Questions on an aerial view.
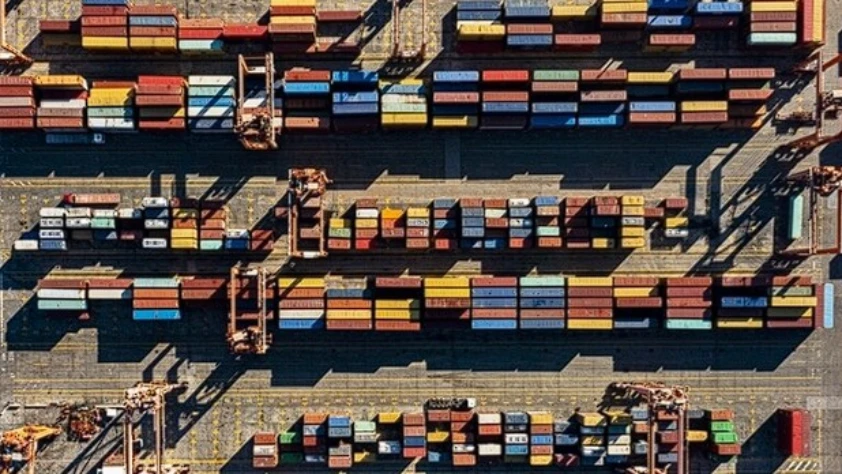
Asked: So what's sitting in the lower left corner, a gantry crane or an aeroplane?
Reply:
gantry crane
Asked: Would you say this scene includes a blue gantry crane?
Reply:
No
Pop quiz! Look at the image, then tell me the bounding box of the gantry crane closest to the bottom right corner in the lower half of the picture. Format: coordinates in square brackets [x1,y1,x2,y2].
[618,373,693,474]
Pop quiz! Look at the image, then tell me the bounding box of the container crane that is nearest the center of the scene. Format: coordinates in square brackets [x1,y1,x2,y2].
[281,162,335,260]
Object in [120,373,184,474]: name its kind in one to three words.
container crane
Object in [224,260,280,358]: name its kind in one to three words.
container crane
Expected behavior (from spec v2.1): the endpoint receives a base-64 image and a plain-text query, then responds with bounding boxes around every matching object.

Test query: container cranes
[281,162,335,260]
[224,260,280,358]
[385,0,436,59]
[784,46,842,146]
[229,53,287,152]
[0,0,38,59]
[618,373,693,474]
[120,373,184,474]
[780,162,842,258]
